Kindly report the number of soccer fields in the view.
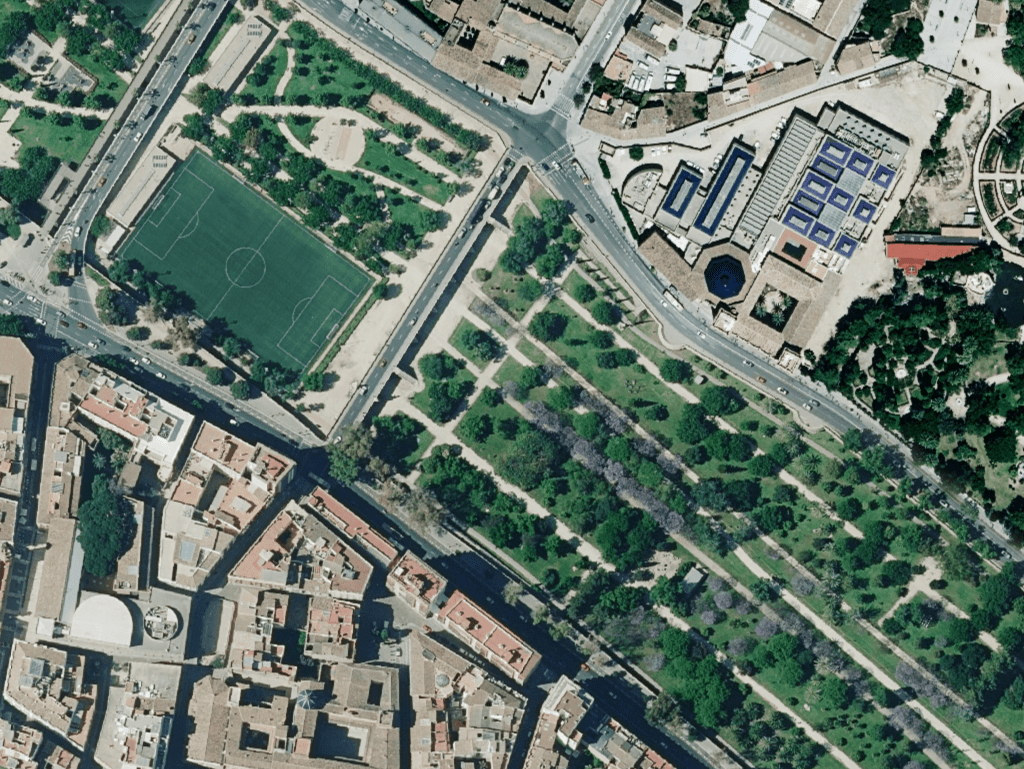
1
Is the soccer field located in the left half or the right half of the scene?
left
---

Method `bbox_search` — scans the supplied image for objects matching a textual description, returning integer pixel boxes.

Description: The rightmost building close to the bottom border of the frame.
[584,718,674,769]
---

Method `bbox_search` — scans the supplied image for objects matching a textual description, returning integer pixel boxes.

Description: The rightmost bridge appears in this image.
[328,145,537,440]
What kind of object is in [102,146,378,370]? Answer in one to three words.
soccer field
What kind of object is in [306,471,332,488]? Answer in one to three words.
vehicle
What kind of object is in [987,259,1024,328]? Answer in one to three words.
pond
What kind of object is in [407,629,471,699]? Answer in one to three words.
building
